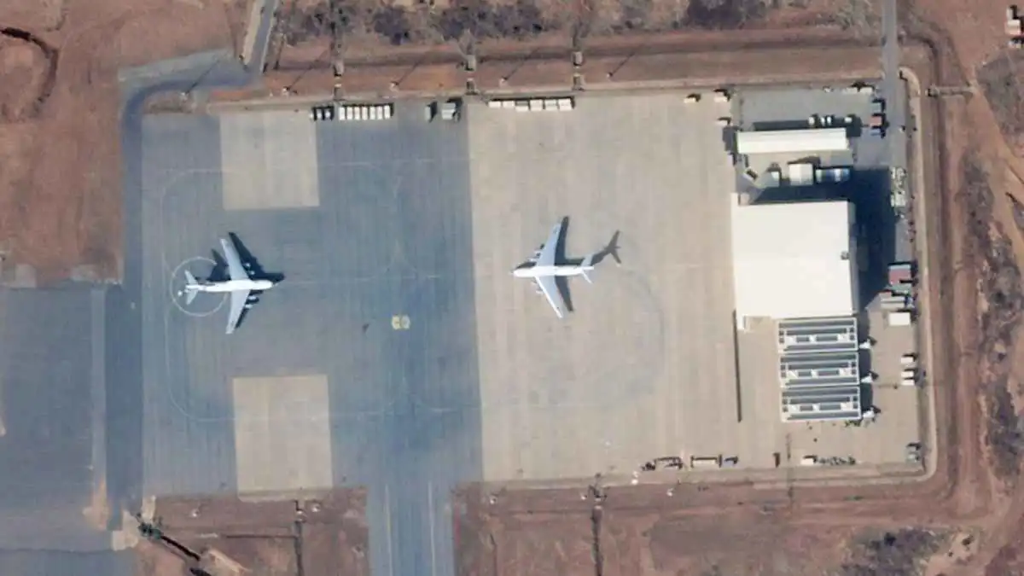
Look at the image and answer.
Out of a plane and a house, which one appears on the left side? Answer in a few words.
plane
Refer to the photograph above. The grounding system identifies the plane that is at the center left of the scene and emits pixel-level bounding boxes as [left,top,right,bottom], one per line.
[184,237,278,333]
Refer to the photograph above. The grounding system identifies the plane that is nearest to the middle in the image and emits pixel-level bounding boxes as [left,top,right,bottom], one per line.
[511,225,595,318]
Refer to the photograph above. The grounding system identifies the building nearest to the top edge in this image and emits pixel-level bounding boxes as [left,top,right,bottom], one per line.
[737,127,851,154]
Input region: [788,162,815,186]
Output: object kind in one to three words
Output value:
house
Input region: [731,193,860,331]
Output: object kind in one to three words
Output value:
hangar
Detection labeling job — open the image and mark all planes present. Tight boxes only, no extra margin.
[184,237,278,333]
[511,225,595,318]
